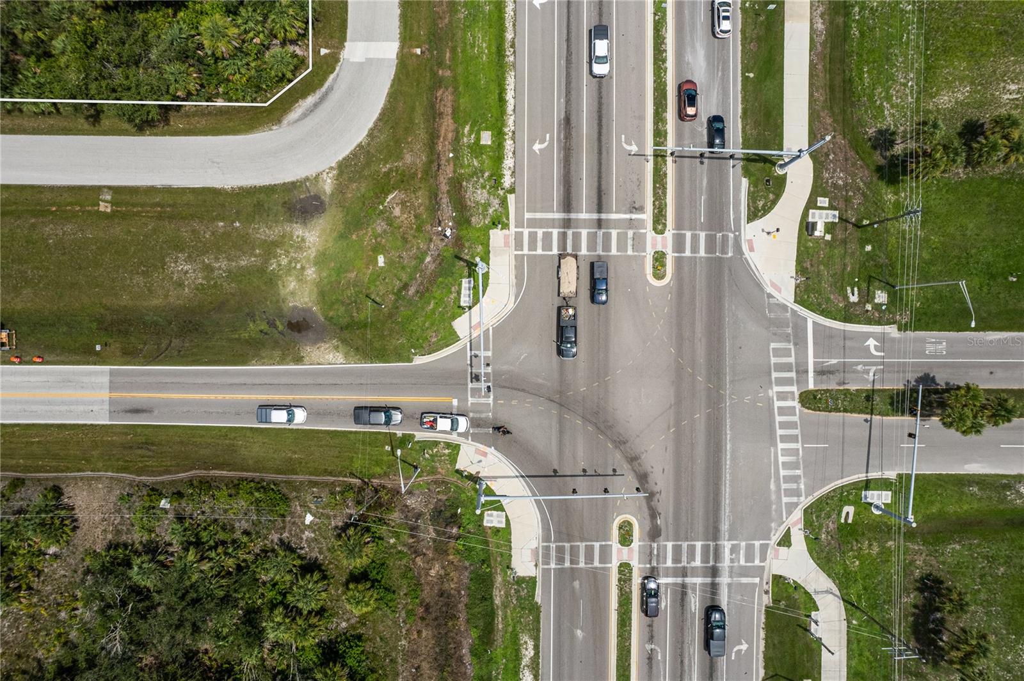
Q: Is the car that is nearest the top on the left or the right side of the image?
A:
right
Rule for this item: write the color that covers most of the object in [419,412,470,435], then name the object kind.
white truck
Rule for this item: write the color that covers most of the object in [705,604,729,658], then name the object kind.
gray truck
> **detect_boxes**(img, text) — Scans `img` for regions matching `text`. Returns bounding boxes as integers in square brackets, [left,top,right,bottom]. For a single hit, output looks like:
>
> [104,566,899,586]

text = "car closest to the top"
[712,0,734,39]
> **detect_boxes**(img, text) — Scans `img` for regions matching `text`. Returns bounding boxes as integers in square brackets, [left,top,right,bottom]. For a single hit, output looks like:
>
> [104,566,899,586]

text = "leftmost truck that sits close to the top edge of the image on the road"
[589,23,612,79]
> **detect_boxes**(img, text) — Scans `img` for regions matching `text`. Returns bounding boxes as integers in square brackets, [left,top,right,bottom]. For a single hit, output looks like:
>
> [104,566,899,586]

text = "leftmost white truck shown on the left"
[255,404,308,427]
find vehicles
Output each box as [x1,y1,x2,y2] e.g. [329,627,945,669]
[556,306,579,359]
[640,574,662,618]
[712,0,734,39]
[255,404,308,427]
[352,405,404,428]
[419,412,470,435]
[589,260,611,305]
[707,115,728,155]
[589,23,612,79]
[678,80,700,122]
[0,329,19,350]
[705,604,729,658]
